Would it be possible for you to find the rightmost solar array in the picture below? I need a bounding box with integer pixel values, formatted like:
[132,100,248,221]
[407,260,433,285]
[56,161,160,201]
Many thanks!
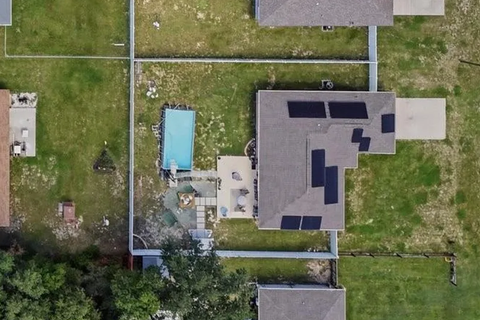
[382,113,395,133]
